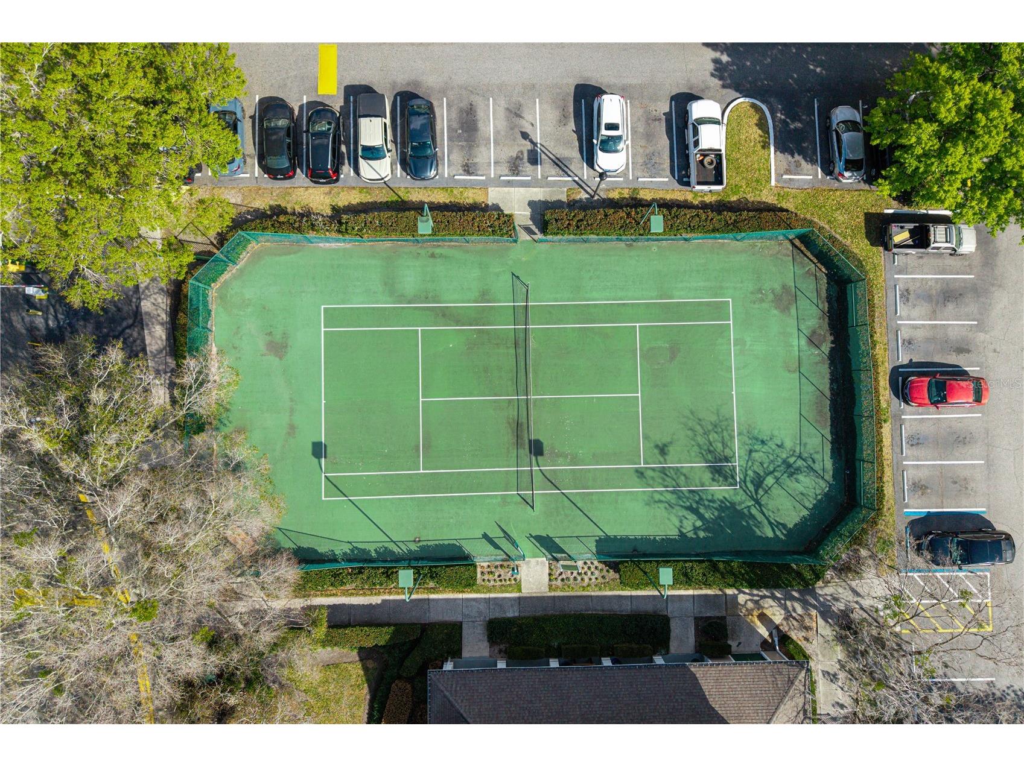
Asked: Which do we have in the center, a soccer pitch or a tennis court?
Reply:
tennis court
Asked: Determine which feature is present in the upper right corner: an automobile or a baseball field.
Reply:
automobile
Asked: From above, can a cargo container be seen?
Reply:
No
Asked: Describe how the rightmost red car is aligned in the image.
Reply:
from left to right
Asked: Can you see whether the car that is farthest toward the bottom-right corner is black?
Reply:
Yes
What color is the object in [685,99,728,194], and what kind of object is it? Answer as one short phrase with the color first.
white truck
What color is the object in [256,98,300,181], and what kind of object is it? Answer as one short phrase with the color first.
black car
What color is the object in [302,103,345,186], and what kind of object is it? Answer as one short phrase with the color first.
black car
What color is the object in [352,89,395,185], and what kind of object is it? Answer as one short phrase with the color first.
white truck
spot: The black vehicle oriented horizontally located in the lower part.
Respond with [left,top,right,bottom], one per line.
[921,528,1017,572]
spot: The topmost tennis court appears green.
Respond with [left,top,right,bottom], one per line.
[213,241,848,561]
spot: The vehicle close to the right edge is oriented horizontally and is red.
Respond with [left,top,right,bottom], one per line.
[904,374,989,412]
